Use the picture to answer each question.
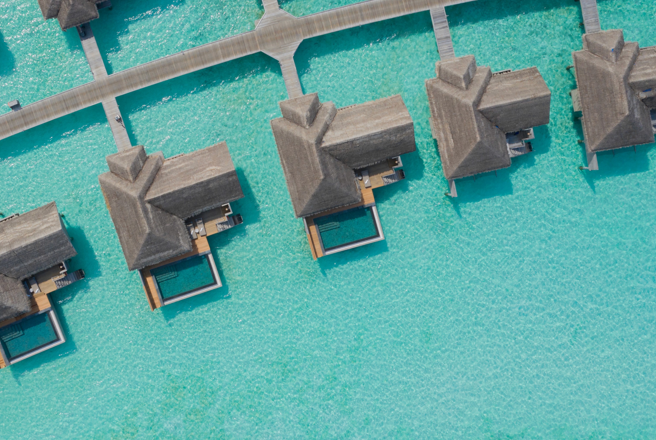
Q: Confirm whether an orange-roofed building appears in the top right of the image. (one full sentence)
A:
No, looking in the top right of the image, there is no orange-roofed building.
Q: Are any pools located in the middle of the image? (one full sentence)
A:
Yes, in the middle of the image there is a pool.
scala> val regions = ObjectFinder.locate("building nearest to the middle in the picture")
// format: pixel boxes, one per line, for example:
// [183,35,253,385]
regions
[270,90,416,260]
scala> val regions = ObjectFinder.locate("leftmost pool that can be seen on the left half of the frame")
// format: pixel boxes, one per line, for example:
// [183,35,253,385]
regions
[0,293,67,366]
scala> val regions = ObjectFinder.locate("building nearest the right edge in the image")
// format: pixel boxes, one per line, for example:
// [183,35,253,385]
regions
[564,28,656,170]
